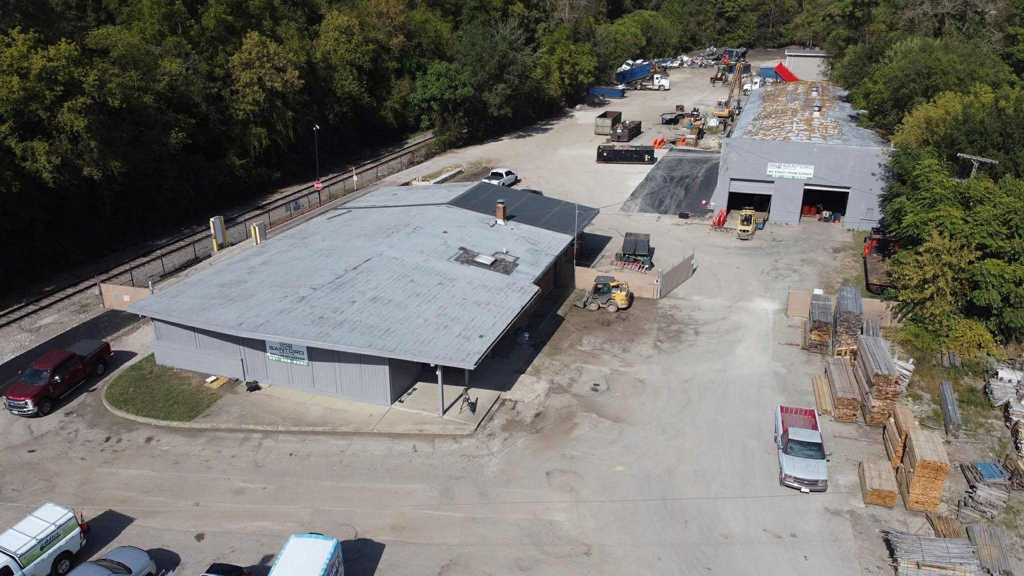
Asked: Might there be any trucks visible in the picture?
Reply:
Yes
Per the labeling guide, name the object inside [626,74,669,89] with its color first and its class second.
white vehicle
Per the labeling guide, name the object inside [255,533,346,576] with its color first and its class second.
white van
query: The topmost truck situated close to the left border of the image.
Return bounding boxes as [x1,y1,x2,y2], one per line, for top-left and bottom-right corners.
[0,341,114,414]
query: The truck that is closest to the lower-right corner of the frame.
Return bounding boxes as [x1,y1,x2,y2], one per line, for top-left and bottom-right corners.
[775,409,837,496]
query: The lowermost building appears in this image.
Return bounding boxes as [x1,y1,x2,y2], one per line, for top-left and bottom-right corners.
[124,181,606,416]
